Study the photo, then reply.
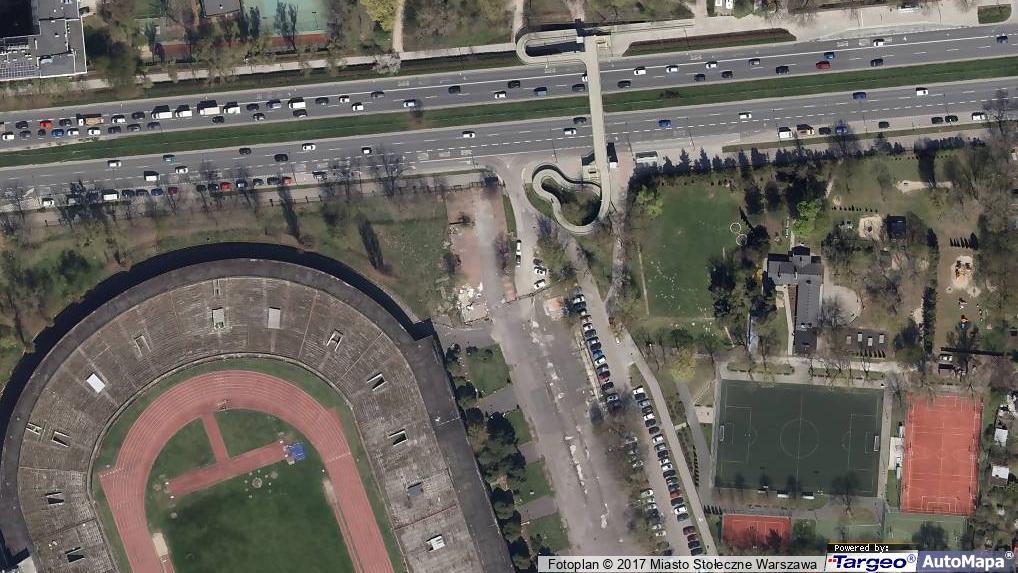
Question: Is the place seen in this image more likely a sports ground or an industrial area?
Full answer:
This image shows a sports ground.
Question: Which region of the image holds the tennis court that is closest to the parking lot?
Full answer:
The tennis court that is closest to the parking lot is located in the bottom right region of the scene.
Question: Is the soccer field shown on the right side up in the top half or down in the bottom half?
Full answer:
Seen from above, the soccer field shown on the right side lies in the bottom half of the view.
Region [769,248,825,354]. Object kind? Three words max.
building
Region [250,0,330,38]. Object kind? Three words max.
tennis court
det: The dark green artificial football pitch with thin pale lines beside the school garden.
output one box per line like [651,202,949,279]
[715,380,884,497]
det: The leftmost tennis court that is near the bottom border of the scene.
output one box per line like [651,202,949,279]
[721,513,790,549]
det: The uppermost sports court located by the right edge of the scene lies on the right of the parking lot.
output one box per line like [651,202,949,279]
[901,393,983,515]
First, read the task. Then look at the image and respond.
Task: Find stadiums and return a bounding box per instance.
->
[0,259,514,573]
